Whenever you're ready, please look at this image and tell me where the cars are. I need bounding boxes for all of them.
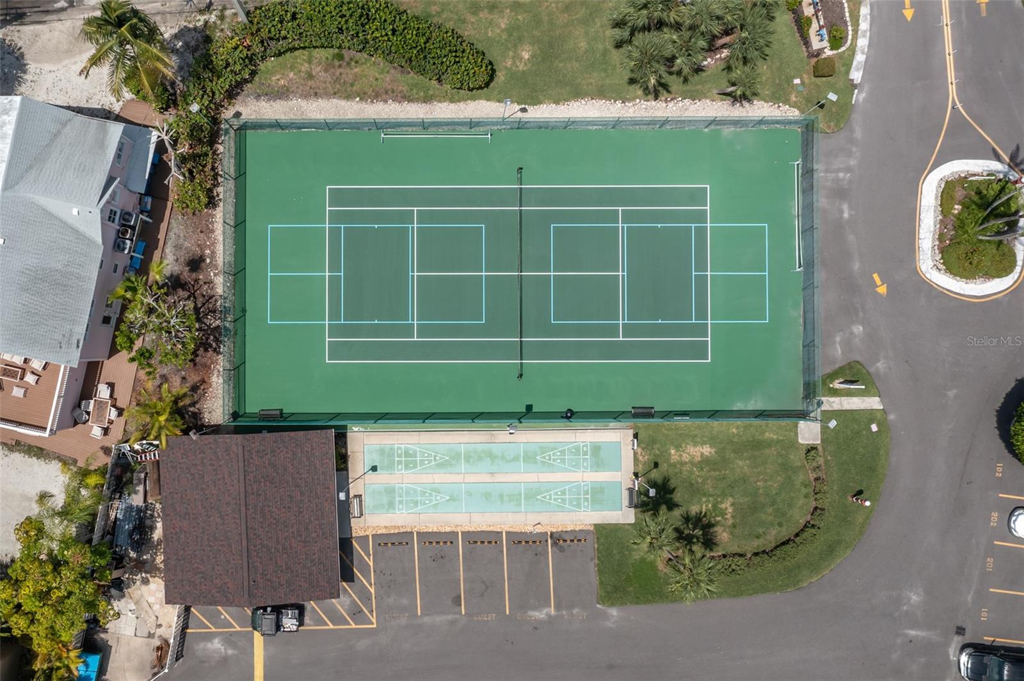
[960,649,1024,681]
[1010,509,1024,539]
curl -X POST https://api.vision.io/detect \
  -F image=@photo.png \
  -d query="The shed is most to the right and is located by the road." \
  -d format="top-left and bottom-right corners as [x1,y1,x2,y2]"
[160,429,340,607]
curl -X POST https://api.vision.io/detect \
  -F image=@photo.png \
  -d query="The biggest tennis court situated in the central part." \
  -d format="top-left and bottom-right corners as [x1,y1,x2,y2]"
[235,128,803,431]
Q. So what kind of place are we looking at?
sports ground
